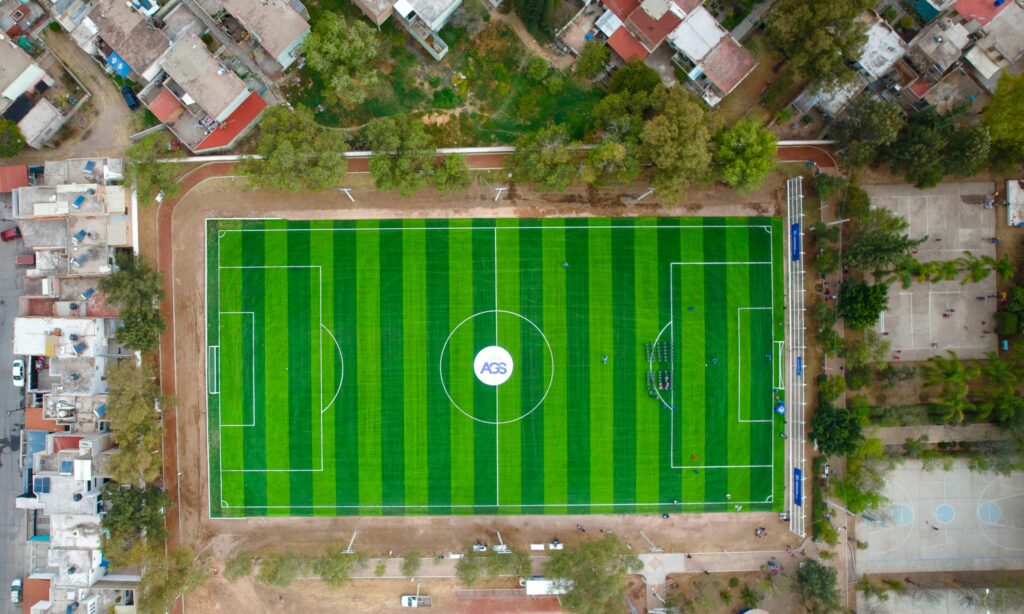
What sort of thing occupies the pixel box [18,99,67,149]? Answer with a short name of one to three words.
house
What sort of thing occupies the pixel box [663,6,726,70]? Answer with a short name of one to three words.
house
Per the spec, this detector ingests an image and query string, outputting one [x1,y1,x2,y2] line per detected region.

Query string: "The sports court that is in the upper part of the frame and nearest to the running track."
[864,181,996,262]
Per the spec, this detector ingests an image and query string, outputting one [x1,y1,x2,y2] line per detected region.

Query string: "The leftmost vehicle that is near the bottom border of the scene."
[9,578,23,604]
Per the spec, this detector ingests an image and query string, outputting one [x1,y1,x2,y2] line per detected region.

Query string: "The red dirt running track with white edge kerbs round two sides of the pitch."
[158,146,837,614]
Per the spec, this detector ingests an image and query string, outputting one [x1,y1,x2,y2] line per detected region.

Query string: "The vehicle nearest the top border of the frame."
[117,82,140,109]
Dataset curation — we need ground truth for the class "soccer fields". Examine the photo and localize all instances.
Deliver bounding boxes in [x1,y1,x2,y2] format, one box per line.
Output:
[206,215,784,519]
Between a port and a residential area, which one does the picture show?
residential area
